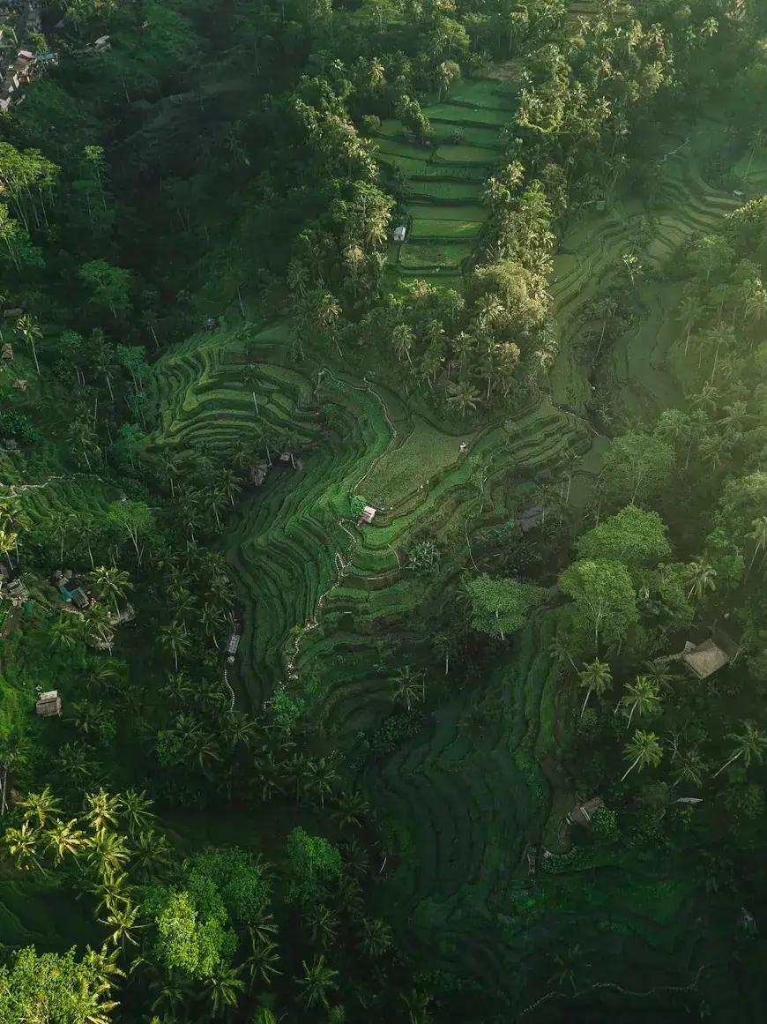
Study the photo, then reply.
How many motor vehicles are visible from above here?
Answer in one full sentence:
There are no motor vehicles in the image.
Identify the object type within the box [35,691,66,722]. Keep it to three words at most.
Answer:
shed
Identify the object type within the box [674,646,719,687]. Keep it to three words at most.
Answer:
building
